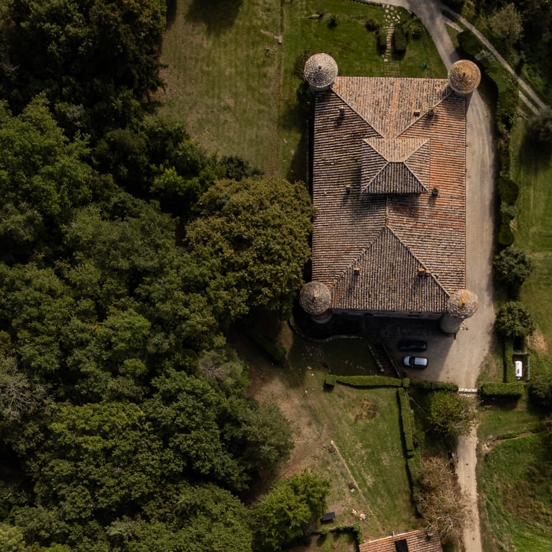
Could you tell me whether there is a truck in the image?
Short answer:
No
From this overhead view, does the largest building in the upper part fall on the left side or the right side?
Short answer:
right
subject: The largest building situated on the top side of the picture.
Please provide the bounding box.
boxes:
[299,52,482,330]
